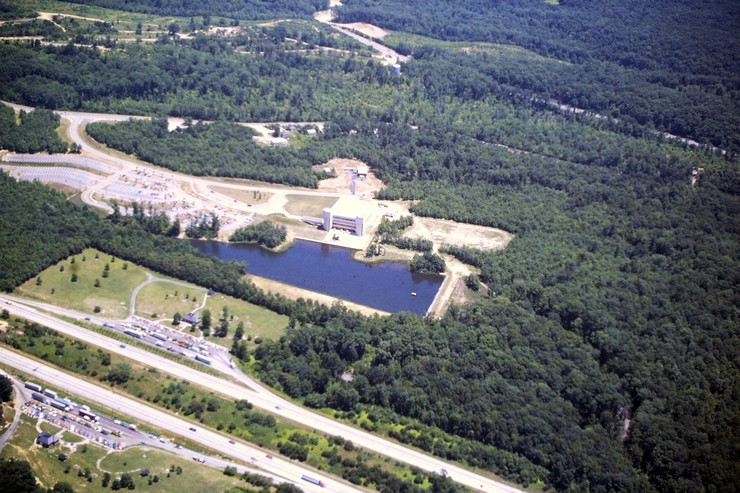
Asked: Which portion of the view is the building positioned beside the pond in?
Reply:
center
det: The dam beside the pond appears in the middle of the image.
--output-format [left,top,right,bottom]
[426,273,462,318]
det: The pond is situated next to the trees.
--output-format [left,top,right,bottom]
[184,239,442,316]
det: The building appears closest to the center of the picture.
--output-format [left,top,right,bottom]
[323,198,378,236]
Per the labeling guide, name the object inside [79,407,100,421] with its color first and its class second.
white vehicle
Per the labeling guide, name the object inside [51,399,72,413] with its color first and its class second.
white vehicle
